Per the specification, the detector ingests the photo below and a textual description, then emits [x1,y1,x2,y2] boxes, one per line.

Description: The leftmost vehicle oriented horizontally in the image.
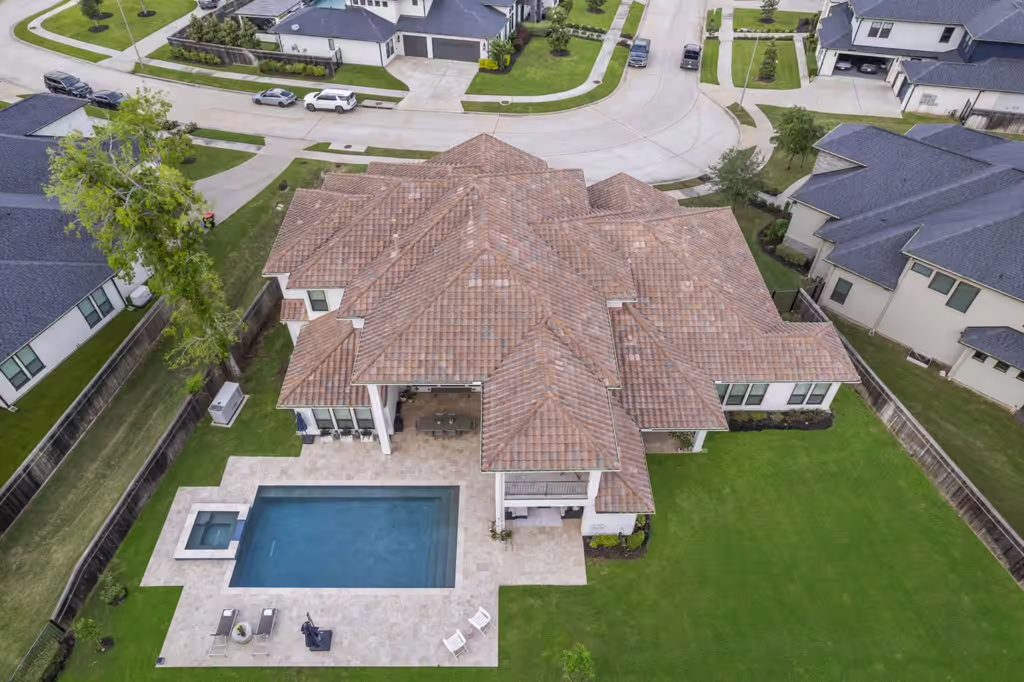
[42,68,97,98]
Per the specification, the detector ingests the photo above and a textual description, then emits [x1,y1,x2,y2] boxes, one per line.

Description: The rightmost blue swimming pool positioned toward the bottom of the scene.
[220,480,466,594]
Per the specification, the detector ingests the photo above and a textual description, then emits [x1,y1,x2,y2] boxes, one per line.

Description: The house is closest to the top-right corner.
[802,0,1024,120]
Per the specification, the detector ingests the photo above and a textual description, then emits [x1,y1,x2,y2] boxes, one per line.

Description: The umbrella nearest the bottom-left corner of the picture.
[300,606,334,650]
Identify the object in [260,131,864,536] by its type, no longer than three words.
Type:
house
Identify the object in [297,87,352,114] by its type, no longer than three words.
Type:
car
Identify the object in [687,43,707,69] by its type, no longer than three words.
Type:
vehicle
